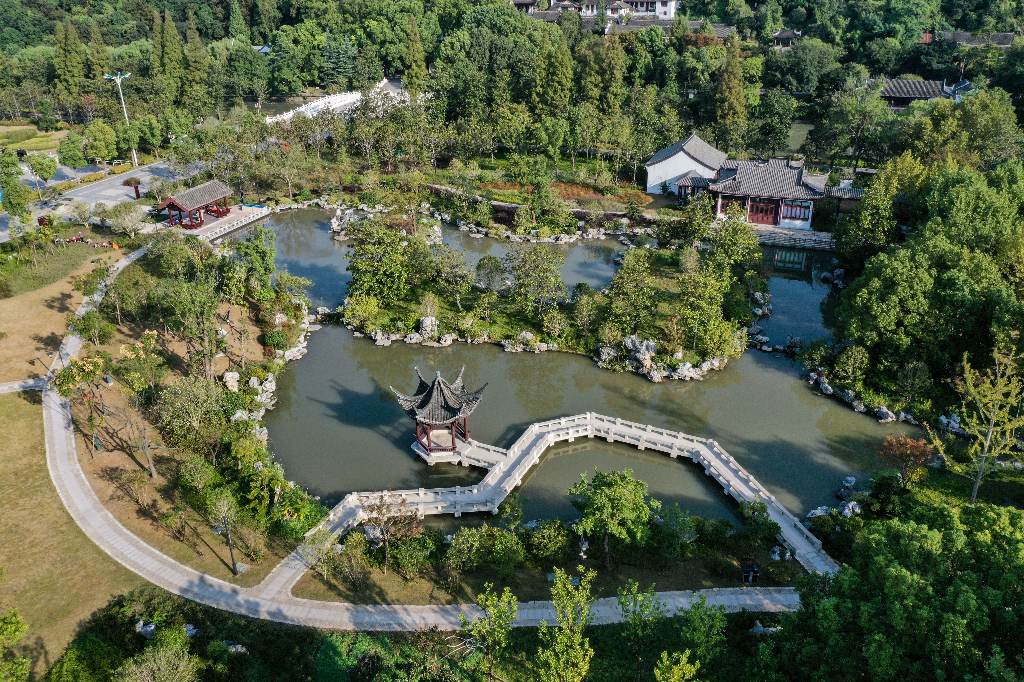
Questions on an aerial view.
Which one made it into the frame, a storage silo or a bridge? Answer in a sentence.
Visible in the photo is a bridge.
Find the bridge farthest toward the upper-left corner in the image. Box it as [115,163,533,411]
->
[263,84,416,124]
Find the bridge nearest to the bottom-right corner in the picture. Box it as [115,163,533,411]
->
[306,412,840,568]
